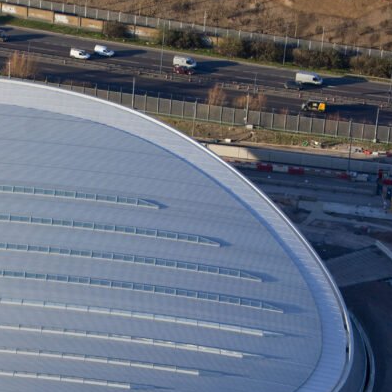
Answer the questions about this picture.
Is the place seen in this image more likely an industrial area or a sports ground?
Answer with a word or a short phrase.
sports ground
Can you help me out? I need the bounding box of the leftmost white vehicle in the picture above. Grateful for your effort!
[69,47,91,59]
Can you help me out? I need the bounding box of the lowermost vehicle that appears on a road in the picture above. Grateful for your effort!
[301,99,328,114]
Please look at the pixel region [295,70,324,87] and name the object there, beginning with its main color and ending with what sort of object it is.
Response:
white vehicle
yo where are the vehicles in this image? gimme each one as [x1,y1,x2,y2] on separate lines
[173,67,194,77]
[69,47,91,59]
[94,44,116,57]
[301,99,328,114]
[295,70,324,87]
[283,82,304,92]
[172,56,198,71]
